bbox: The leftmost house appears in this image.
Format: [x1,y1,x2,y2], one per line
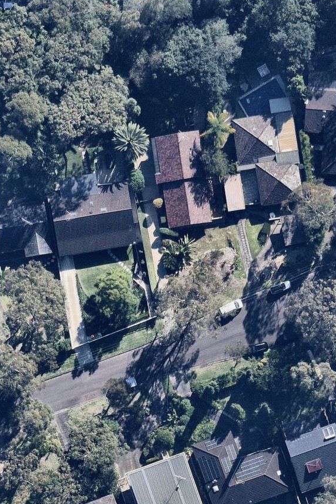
[0,200,53,262]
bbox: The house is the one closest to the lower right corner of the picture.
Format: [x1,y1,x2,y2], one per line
[286,423,336,493]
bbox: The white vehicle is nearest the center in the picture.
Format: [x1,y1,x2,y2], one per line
[217,301,243,315]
